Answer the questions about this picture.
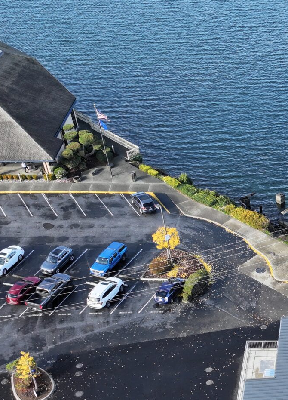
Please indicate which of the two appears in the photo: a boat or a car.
car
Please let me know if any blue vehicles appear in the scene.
Yes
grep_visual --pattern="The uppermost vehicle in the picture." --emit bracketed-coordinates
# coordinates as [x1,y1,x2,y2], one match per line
[128,188,157,214]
